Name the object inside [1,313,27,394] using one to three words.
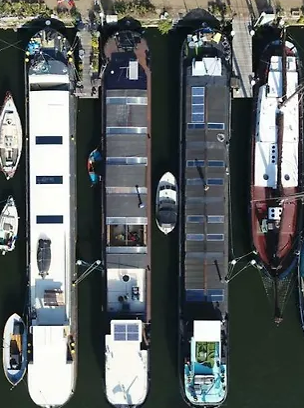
boat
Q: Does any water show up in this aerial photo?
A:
Yes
